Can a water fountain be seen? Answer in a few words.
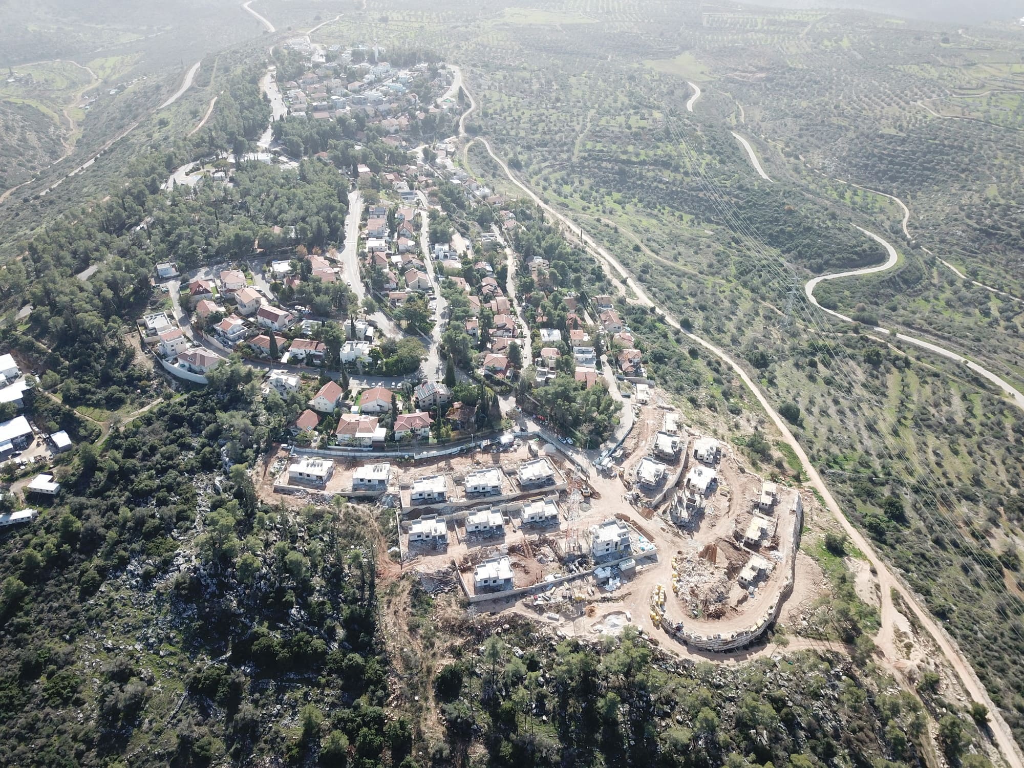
No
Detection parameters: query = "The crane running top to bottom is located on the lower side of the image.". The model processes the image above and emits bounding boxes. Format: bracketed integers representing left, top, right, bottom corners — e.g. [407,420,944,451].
[559,445,581,590]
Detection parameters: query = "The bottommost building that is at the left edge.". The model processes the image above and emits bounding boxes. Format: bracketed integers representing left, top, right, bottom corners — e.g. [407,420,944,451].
[0,502,42,530]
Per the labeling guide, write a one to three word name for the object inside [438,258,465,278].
house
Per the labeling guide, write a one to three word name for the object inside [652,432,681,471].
house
